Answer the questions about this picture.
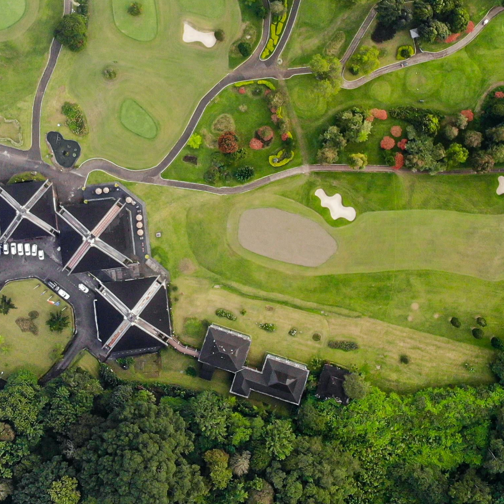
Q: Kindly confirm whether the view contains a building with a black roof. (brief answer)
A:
Yes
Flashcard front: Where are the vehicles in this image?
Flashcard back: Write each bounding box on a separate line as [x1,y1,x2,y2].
[77,282,89,294]
[38,249,45,261]
[58,288,71,300]
[482,19,491,25]
[47,280,61,292]
[3,242,10,256]
[32,244,38,257]
[17,243,24,256]
[24,243,30,257]
[11,243,17,256]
